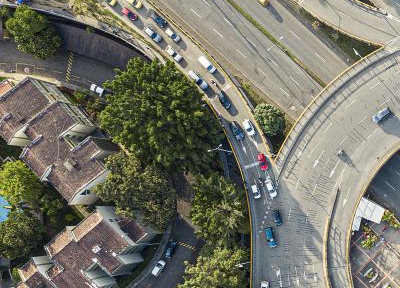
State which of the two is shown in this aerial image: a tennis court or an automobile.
automobile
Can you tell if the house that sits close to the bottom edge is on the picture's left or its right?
left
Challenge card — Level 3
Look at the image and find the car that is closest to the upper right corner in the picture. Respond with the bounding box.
[372,106,392,124]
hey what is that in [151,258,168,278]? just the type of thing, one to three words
car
